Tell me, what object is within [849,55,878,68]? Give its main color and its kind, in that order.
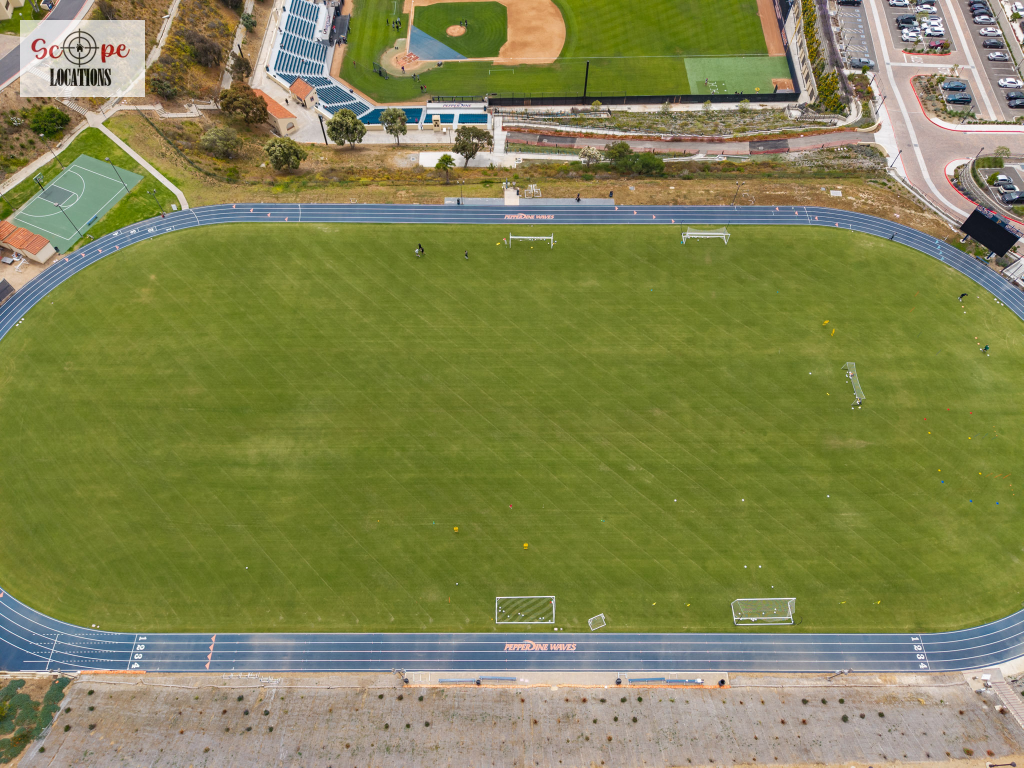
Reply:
gray vehicle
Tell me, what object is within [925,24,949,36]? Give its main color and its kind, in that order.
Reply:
white vehicle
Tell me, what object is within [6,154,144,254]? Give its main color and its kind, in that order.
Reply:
green basketball court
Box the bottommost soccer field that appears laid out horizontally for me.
[0,222,1024,632]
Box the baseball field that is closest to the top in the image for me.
[332,0,794,104]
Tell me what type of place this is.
sports ground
